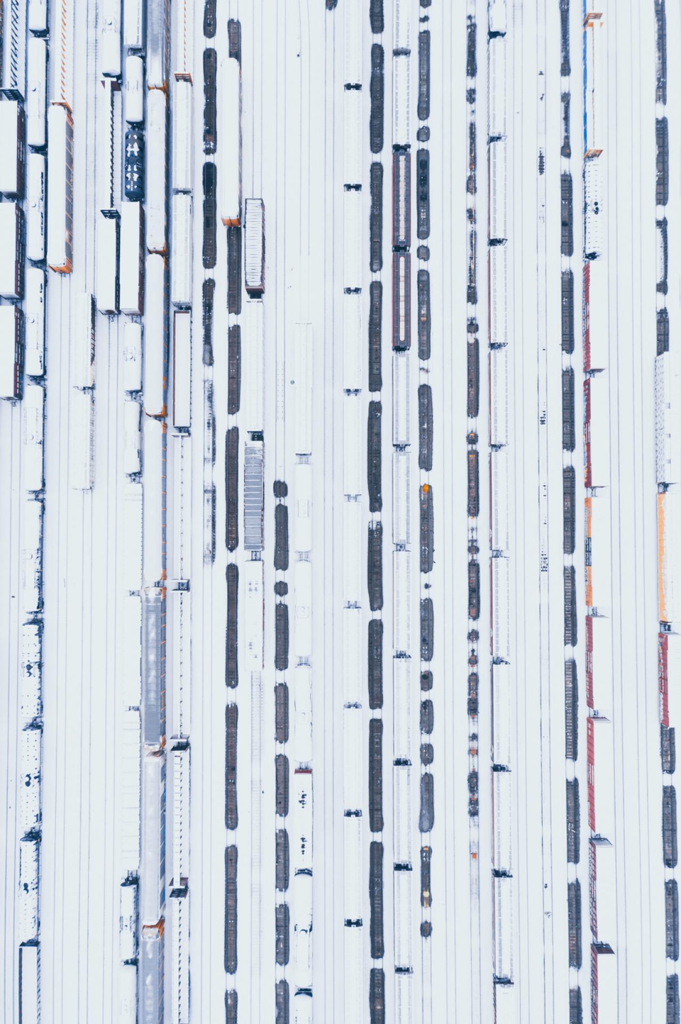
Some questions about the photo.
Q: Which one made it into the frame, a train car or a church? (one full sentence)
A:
The image shows a train car.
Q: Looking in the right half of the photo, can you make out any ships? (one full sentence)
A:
No, no ship appears in the right half of the photo.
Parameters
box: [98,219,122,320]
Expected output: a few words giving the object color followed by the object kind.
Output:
white rail car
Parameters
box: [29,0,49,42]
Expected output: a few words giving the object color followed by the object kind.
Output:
white rail car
